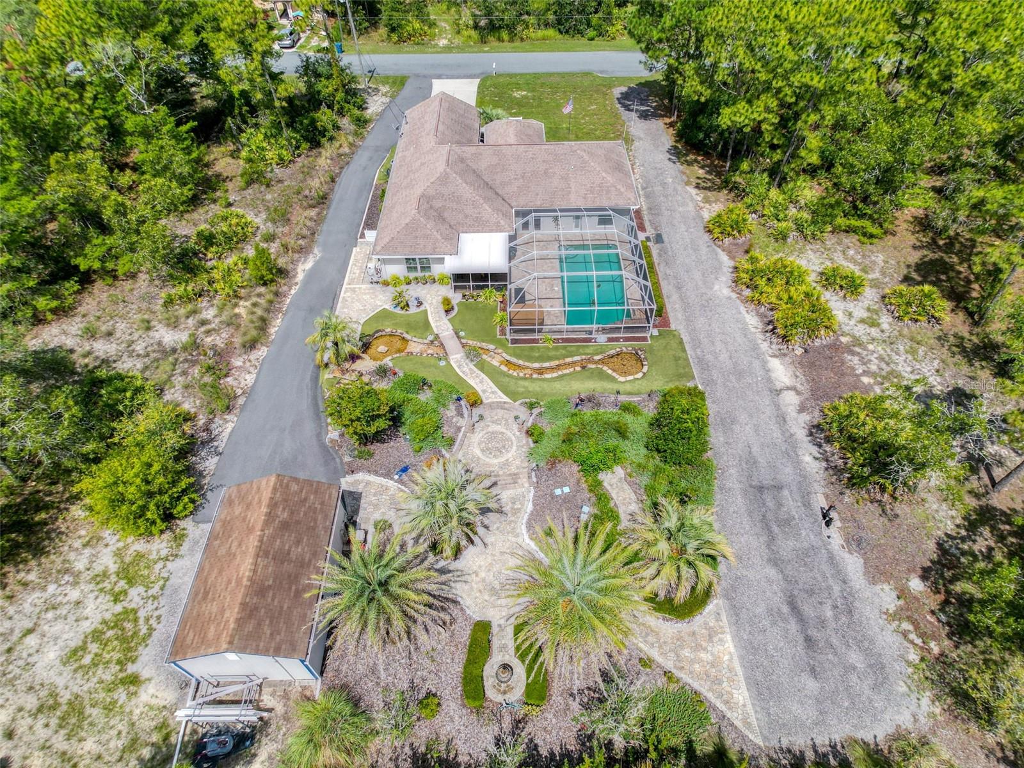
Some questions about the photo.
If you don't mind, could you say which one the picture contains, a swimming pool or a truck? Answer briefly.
swimming pool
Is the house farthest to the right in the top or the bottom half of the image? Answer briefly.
top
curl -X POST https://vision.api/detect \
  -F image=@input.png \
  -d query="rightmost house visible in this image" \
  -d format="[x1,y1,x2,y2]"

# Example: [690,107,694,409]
[367,95,642,281]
